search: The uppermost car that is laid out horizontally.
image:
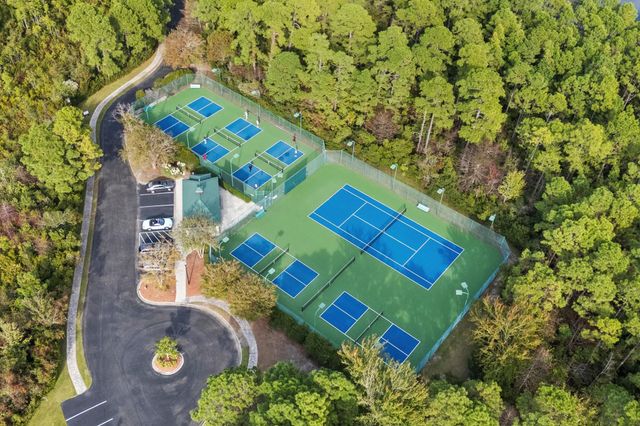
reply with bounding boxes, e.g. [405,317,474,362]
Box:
[146,179,175,191]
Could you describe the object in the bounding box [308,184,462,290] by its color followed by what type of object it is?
blue tennis court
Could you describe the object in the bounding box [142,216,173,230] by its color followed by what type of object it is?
white vehicle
